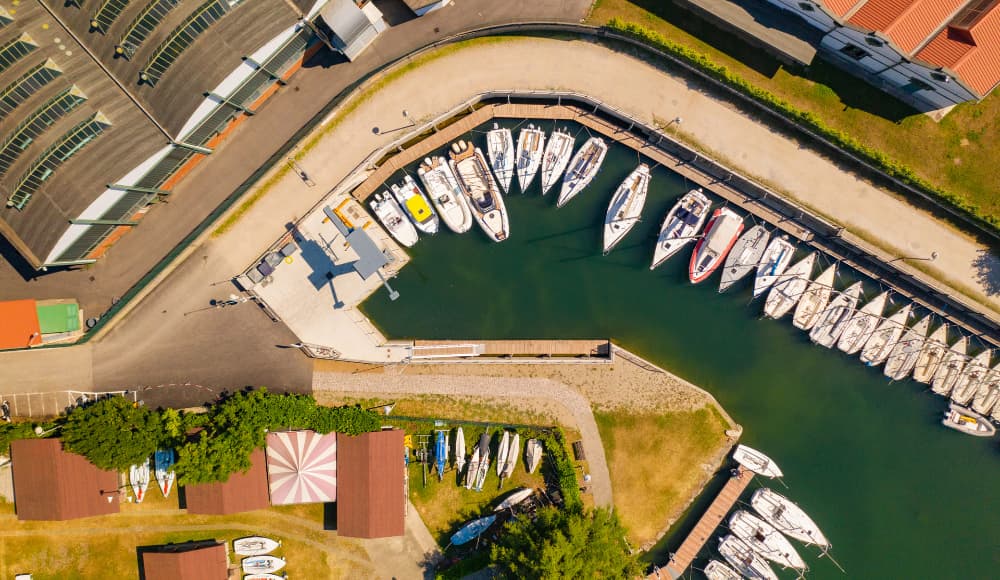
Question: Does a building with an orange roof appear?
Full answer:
Yes, the picture does show a building with an orange roof.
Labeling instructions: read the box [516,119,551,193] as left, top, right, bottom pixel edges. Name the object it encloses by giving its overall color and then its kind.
white boat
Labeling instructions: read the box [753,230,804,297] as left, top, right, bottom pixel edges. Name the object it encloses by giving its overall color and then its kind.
white boat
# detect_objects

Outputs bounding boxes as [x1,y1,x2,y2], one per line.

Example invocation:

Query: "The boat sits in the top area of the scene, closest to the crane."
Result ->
[369,187,414,245]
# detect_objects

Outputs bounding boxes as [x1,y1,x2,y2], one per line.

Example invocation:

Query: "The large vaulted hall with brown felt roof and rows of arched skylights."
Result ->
[0,0,342,272]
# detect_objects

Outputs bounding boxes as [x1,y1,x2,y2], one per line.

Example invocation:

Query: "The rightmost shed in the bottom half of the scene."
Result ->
[337,431,405,538]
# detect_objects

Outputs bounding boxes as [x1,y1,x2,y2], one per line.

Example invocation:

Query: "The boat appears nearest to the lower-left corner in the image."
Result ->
[130,461,150,505]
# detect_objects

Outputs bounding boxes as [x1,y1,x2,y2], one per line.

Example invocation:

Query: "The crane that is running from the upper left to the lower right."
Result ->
[322,207,400,300]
